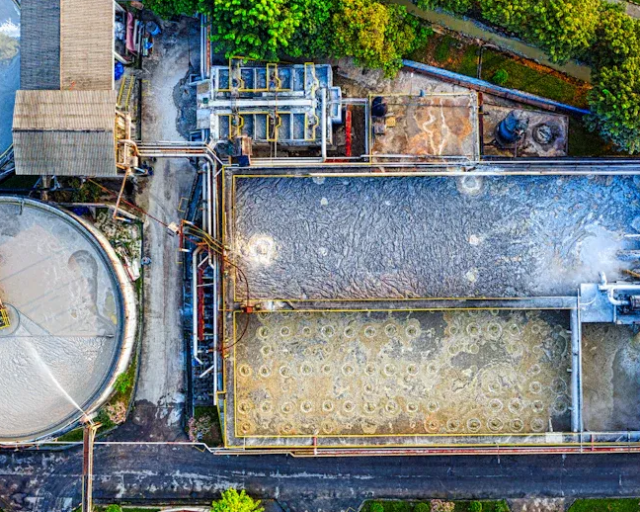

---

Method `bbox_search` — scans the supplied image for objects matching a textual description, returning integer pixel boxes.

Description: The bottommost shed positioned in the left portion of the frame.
[12,92,137,178]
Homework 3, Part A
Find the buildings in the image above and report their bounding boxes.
[12,92,137,178]
[21,0,132,96]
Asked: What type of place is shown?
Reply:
industrial area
